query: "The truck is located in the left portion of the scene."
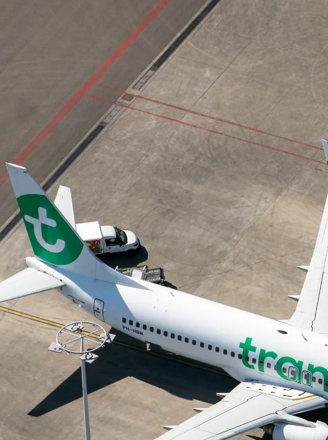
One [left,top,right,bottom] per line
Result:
[76,221,143,263]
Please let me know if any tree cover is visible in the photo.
No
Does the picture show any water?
No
